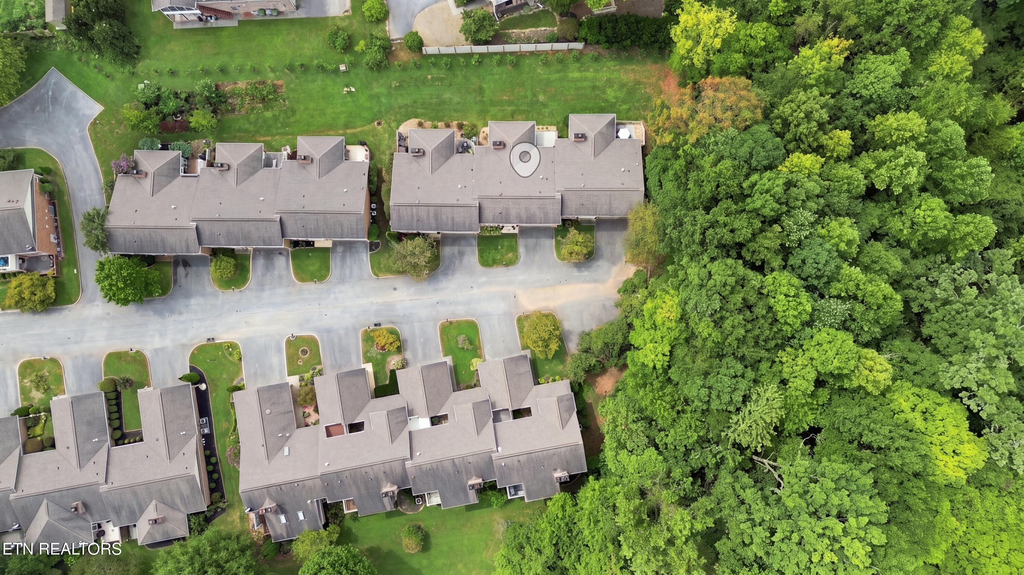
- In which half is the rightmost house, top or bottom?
top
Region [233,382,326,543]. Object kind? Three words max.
house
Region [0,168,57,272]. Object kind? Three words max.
house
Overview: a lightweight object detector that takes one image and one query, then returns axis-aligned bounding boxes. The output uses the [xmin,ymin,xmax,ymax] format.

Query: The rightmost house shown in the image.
[554,113,644,221]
